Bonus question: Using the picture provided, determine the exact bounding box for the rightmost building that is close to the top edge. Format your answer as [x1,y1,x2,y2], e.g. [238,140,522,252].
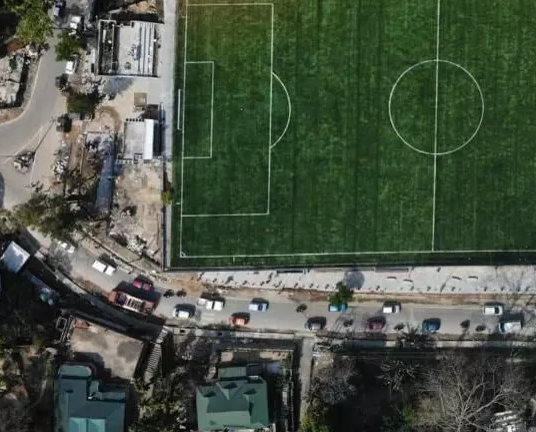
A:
[98,19,160,79]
